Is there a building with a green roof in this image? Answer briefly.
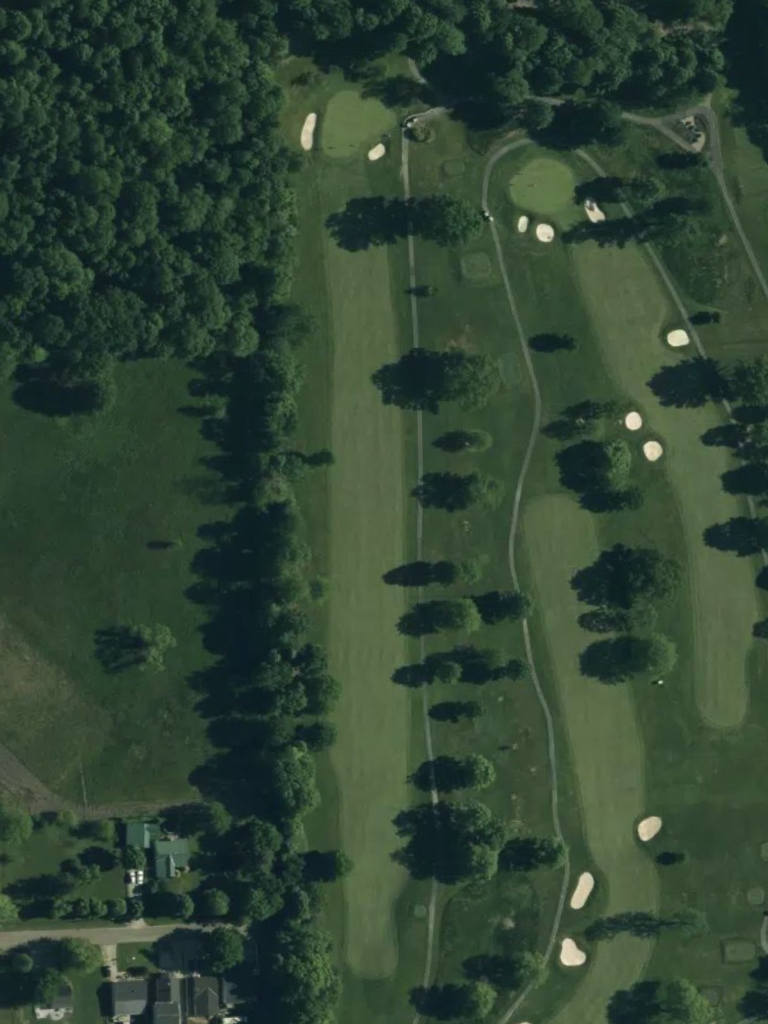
Yes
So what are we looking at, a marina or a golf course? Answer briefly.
golf course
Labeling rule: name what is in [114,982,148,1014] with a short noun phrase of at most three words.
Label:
house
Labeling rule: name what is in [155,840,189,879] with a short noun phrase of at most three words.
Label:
house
